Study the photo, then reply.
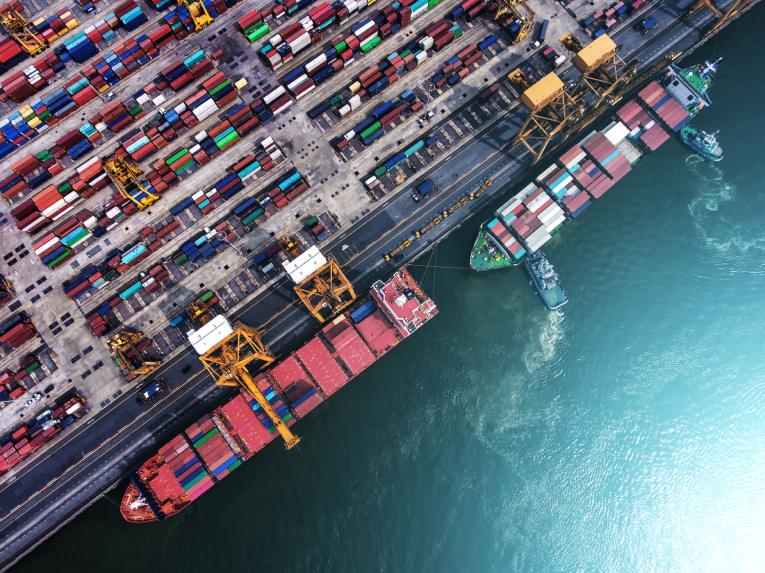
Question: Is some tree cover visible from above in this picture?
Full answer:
No, the scene doesn't show any tree cover.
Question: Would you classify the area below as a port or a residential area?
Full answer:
This looks like a port.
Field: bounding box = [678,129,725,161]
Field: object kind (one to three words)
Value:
boat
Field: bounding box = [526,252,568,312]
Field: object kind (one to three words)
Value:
boat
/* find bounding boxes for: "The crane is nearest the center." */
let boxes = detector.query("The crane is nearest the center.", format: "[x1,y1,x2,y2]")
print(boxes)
[279,245,357,326]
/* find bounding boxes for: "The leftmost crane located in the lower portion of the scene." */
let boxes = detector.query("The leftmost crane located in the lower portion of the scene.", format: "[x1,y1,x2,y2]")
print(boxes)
[111,326,171,376]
